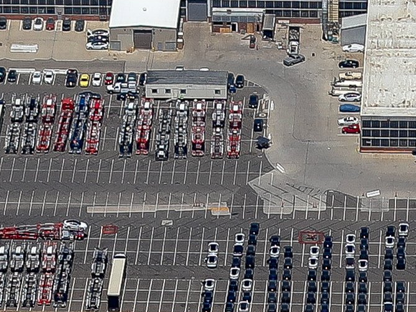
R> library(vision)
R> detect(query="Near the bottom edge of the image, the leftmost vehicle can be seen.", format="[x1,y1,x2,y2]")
[107,252,126,309]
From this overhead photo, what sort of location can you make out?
parking lot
